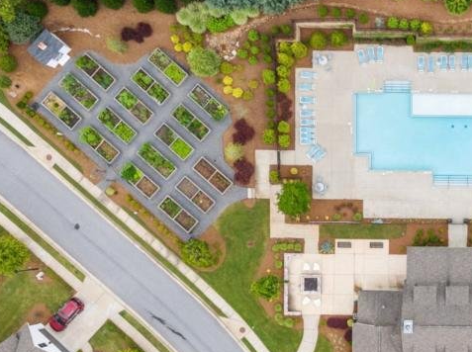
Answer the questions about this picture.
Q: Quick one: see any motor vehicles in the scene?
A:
Yes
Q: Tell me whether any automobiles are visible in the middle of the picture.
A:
No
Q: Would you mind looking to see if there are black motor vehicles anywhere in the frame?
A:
No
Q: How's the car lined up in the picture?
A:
diagonally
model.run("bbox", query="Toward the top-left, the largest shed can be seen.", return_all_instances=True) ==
[20,23,70,75]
